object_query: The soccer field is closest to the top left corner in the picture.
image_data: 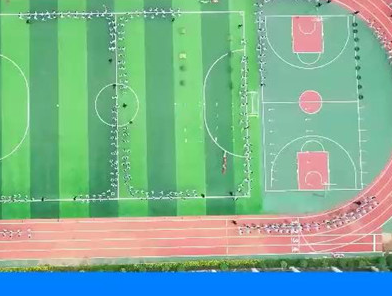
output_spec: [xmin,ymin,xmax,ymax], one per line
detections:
[0,0,263,219]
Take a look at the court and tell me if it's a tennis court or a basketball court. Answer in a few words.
basketball court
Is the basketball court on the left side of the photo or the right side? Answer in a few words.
right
